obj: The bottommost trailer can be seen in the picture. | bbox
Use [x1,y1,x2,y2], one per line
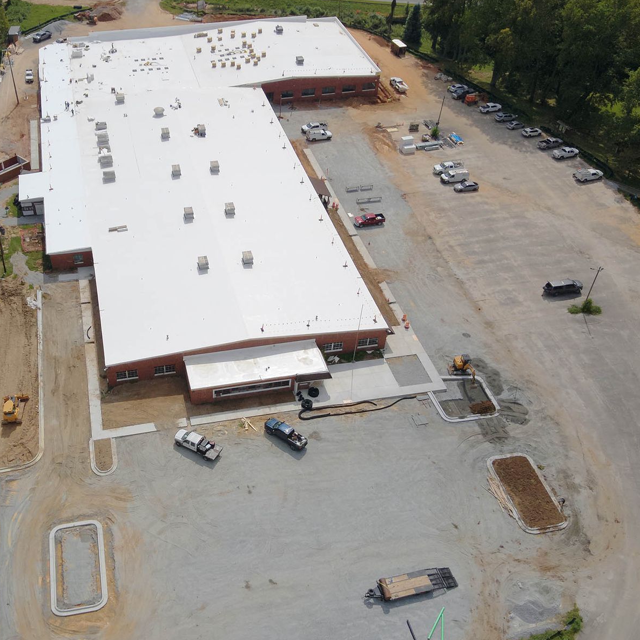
[371,568,457,601]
